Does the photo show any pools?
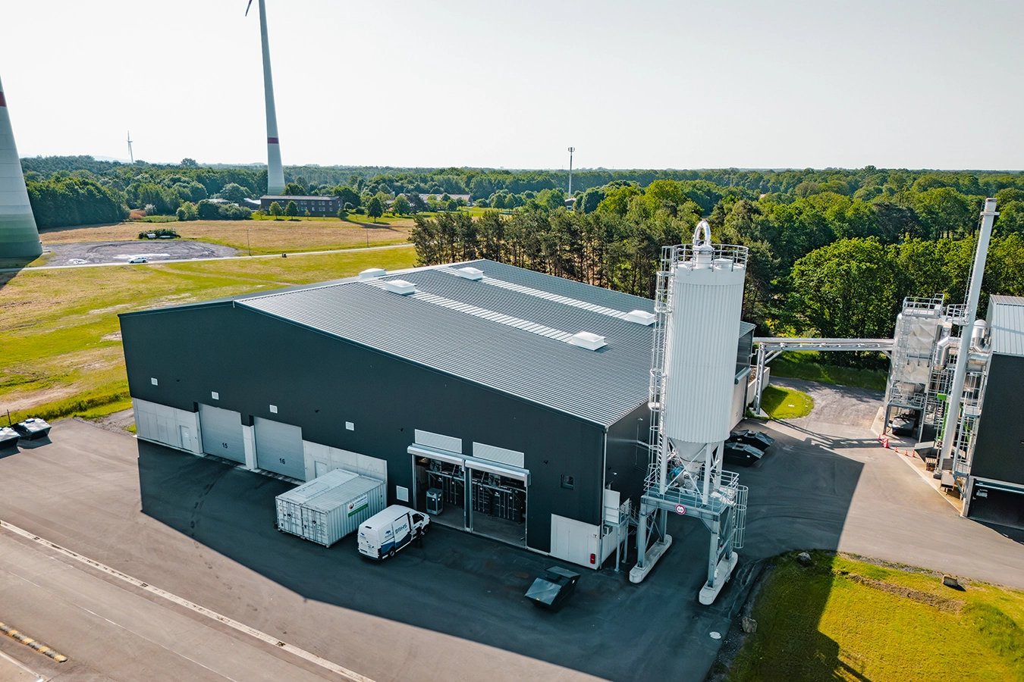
No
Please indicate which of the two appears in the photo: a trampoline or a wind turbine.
wind turbine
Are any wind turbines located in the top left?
Yes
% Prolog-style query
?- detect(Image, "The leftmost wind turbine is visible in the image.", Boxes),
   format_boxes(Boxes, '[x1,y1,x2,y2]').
[0,63,48,262]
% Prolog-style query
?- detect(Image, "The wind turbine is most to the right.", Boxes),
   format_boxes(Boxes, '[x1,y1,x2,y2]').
[249,0,286,193]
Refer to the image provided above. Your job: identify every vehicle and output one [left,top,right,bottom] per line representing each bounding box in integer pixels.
[357,503,433,563]
[127,257,147,263]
